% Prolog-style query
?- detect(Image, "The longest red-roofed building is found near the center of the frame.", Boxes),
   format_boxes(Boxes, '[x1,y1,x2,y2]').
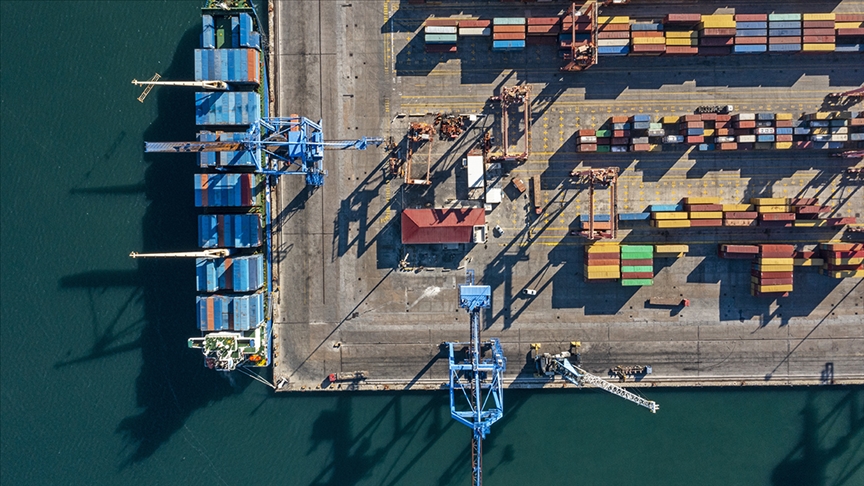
[402,208,489,243]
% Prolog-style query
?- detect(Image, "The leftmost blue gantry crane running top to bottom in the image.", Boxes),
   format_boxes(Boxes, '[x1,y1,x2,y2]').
[446,260,508,486]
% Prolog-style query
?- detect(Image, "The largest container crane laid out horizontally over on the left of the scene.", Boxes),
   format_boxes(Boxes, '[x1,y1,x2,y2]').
[146,113,386,185]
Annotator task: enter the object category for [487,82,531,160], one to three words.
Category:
container crane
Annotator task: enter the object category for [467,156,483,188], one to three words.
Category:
shed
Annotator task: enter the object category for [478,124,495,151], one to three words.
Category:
work vehicle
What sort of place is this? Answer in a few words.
port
